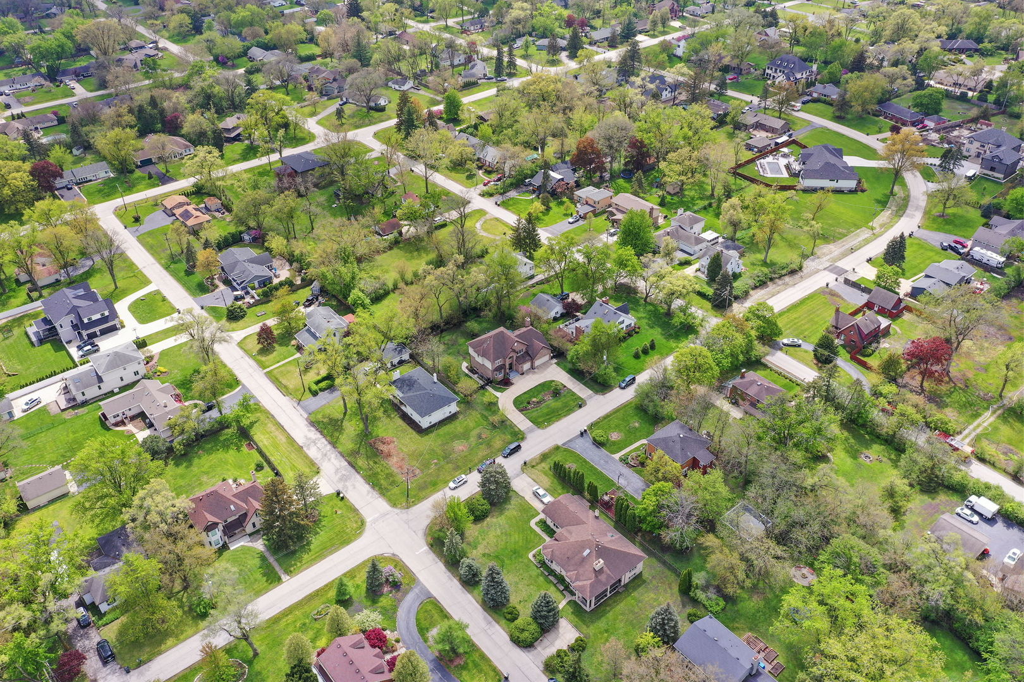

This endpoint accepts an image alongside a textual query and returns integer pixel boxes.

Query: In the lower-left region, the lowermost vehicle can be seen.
[95,637,116,665]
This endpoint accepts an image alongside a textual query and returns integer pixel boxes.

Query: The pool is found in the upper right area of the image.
[766,161,784,174]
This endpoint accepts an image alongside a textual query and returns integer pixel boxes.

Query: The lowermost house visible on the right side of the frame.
[673,615,779,682]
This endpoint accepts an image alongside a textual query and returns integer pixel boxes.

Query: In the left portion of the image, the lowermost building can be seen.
[312,633,385,682]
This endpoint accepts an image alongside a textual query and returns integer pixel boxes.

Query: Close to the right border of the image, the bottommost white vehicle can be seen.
[1002,548,1023,568]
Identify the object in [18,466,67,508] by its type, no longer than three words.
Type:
building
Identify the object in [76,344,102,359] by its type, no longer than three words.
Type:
vehicle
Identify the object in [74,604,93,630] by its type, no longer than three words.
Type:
car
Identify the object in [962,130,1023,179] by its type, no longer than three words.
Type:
house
